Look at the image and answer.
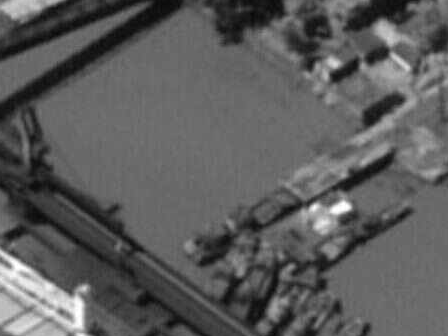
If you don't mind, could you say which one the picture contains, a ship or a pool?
ship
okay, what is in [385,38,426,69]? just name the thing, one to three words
house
